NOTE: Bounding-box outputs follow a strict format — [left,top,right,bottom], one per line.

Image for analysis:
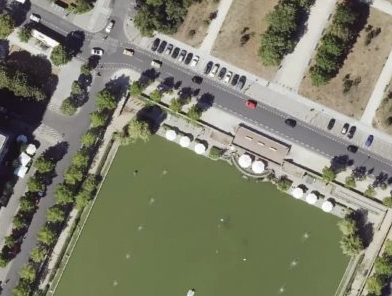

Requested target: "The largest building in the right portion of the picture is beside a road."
[232,126,289,167]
